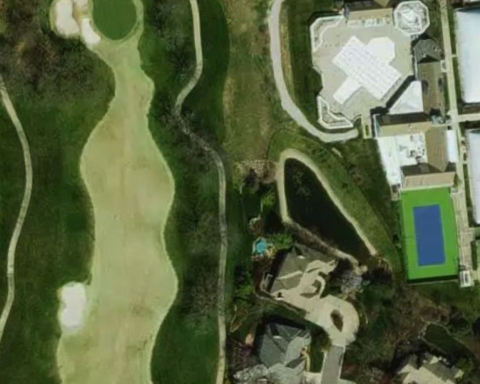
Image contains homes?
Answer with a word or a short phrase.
Yes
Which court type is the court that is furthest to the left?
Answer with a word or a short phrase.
tennis court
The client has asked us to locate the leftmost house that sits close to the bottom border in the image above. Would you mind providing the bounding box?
[255,323,308,384]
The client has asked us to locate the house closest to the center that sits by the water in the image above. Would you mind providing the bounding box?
[267,240,337,293]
